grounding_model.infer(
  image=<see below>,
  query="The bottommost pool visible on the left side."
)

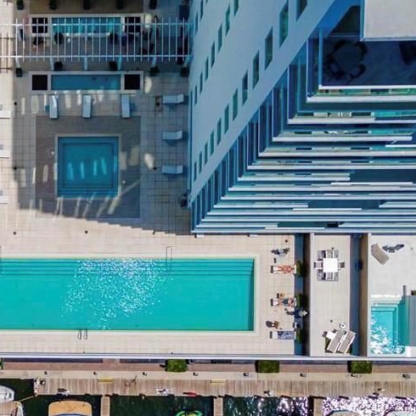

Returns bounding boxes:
[0,254,259,336]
